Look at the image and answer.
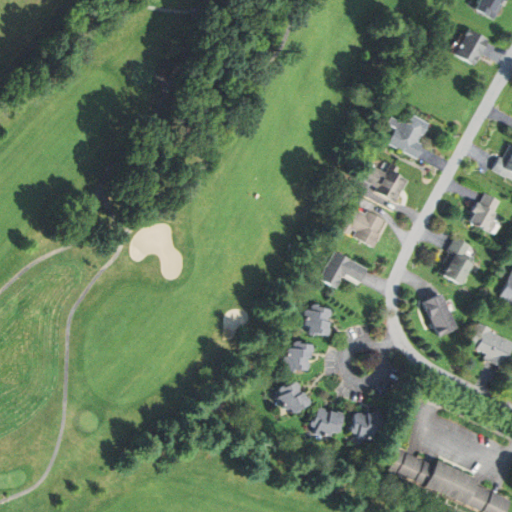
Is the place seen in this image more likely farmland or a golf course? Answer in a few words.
golf course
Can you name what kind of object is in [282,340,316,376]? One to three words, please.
house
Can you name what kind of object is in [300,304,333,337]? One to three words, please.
house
